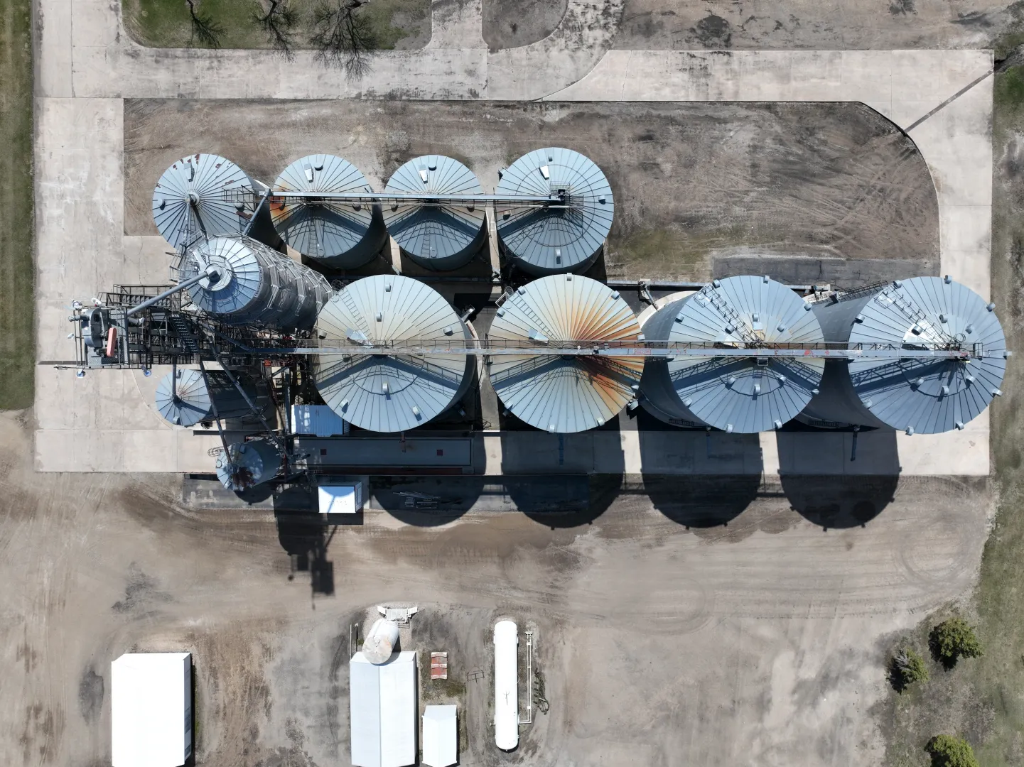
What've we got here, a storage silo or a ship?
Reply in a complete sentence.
The one in the frame is a storage silo.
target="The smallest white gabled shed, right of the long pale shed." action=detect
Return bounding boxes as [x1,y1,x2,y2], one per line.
[422,705,459,767]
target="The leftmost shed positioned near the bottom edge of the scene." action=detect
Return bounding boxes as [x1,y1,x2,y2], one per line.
[110,653,193,767]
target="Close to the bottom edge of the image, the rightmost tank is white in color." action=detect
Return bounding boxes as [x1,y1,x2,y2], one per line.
[492,620,520,753]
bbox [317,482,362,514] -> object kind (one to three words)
shed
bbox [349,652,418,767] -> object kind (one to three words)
shed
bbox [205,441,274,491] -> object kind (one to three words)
silo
